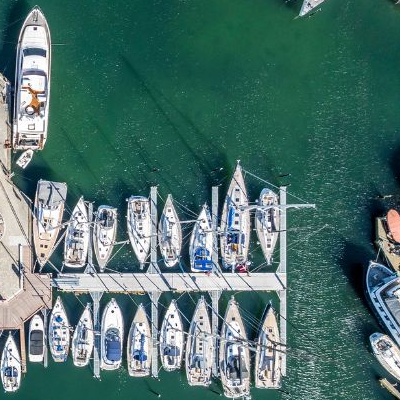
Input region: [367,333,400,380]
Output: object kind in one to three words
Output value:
boat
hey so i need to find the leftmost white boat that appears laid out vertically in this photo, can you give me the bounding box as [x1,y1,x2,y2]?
[0,333,23,392]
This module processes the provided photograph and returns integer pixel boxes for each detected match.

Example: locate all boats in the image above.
[64,195,105,273]
[14,4,53,154]
[367,333,400,380]
[126,293,173,383]
[26,318,45,362]
[255,189,291,274]
[188,203,241,276]
[219,159,310,280]
[157,192,206,270]
[158,291,211,370]
[125,196,169,274]
[47,291,79,363]
[255,293,320,389]
[0,333,23,392]
[32,179,68,272]
[92,202,124,274]
[298,0,321,15]
[15,149,35,167]
[72,293,109,368]
[185,291,250,387]
[97,292,124,372]
[218,291,295,398]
